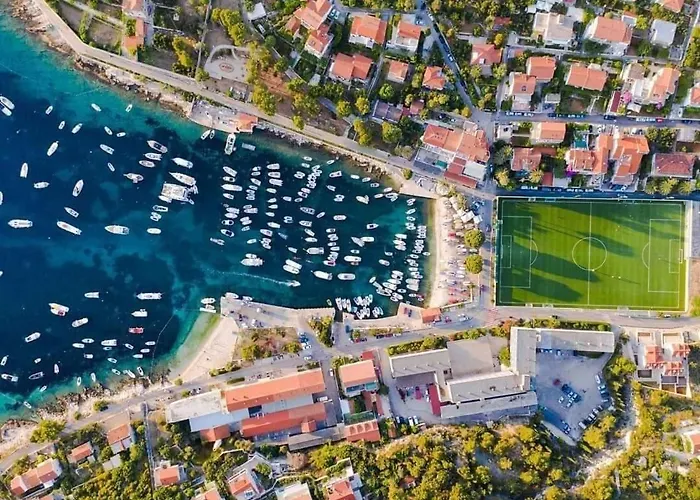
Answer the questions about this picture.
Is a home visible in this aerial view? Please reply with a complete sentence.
Yes, there's a home here.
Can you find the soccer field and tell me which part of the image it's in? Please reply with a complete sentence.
The soccer field sits in the right section of the image.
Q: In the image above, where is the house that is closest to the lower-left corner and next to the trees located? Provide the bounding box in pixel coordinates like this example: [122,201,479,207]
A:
[6,454,69,494]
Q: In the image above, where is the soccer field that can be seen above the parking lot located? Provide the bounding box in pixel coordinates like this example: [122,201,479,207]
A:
[497,198,687,311]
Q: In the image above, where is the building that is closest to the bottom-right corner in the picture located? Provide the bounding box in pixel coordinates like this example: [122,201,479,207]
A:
[658,356,688,384]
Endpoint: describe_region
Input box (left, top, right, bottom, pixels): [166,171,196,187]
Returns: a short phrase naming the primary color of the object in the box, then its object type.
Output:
white boat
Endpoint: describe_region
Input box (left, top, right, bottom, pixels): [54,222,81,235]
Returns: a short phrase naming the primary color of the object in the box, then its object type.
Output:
white boat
